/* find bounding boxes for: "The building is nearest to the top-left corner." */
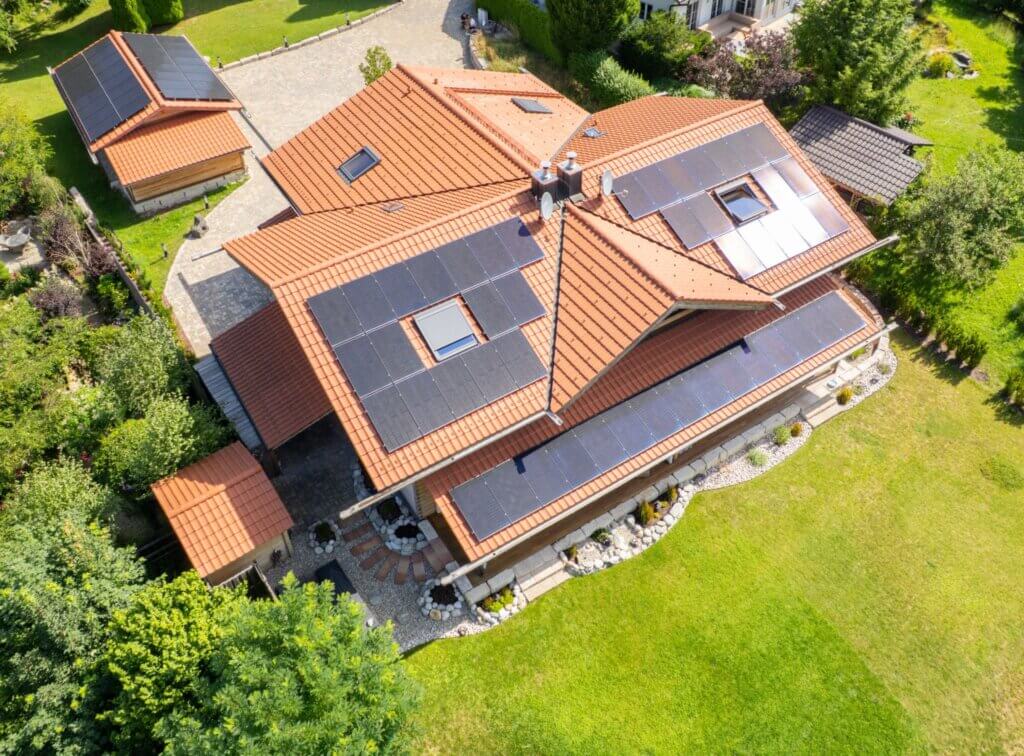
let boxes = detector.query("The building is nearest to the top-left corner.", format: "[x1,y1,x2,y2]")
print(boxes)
[46,27,254,213]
